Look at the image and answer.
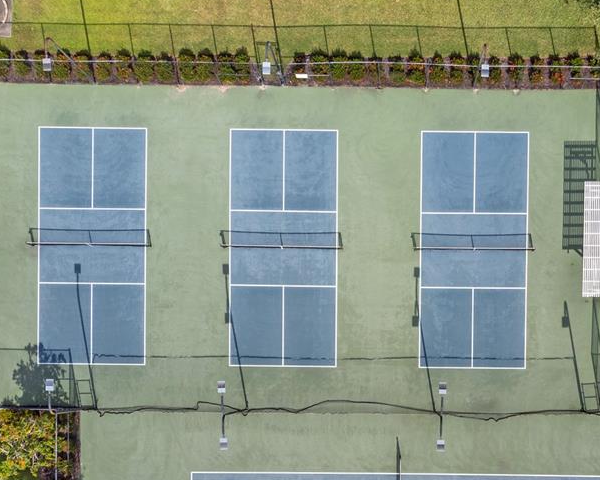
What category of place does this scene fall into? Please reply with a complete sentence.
This looks like a sports ground.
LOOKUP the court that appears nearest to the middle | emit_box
[229,129,339,368]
